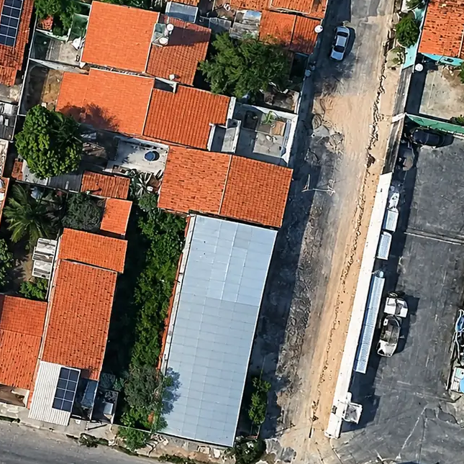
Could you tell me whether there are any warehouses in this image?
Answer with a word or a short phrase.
Yes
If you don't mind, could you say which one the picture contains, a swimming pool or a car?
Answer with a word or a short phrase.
car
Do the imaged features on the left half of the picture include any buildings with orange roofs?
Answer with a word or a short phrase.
Yes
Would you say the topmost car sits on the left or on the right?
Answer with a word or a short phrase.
right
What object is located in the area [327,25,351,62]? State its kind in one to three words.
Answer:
car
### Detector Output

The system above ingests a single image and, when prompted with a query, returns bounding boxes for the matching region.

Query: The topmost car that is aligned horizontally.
[403,126,449,148]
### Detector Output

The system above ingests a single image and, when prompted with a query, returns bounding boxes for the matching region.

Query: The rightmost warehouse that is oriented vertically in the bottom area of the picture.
[148,216,278,447]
